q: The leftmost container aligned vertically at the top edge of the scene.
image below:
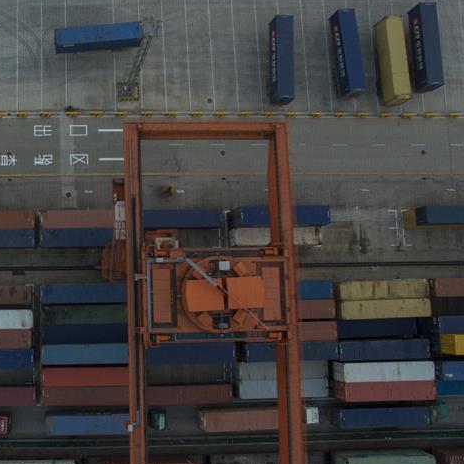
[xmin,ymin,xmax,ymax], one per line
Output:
[269,18,295,104]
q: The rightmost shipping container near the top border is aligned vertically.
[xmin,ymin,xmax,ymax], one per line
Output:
[407,4,445,91]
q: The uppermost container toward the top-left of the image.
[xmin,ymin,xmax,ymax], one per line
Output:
[54,24,141,53]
